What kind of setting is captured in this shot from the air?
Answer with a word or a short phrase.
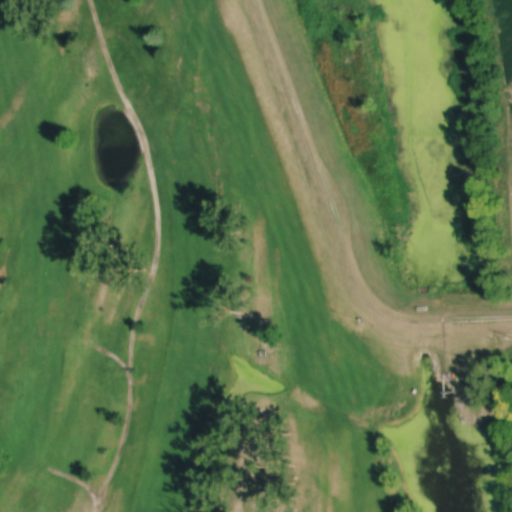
golf course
